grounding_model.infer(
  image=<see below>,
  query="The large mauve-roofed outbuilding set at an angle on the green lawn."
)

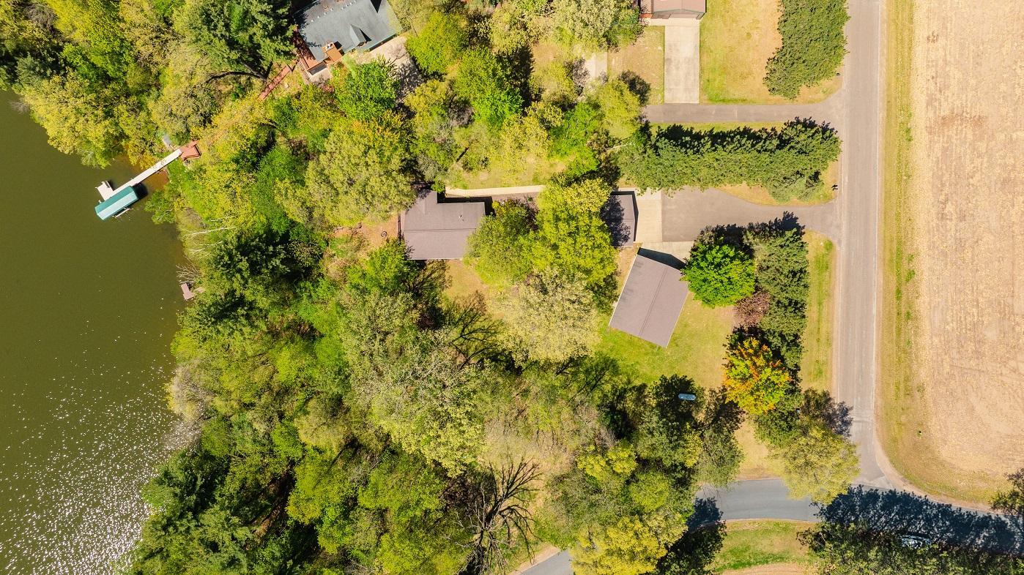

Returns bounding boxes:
[609,255,690,348]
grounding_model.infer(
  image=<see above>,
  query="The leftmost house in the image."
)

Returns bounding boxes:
[289,0,402,76]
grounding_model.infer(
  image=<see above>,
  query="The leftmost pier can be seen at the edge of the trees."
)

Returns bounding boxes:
[94,148,182,201]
